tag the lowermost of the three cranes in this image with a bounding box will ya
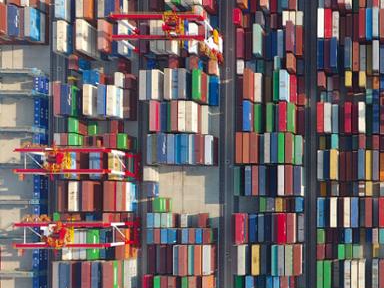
[12,215,143,253]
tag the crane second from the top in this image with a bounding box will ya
[12,143,143,181]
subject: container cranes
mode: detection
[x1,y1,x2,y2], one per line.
[12,143,143,181]
[12,215,143,253]
[111,8,229,88]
